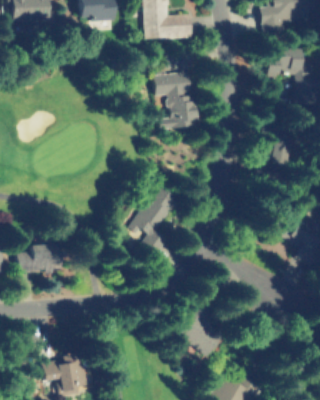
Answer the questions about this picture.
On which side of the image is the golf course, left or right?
left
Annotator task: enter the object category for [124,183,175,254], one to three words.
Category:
house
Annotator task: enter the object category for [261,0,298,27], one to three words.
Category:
house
